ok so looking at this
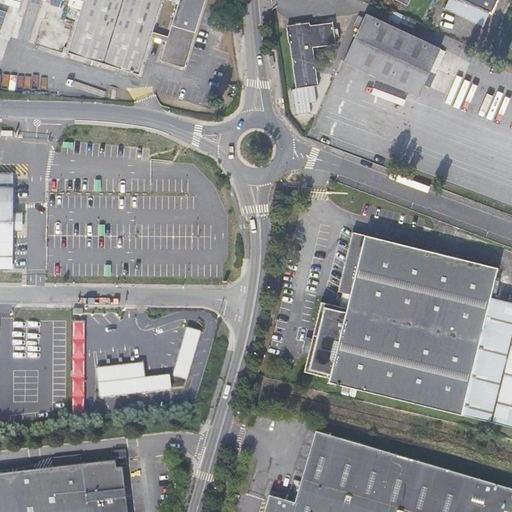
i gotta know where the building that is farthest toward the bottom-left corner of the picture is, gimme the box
[0,459,129,512]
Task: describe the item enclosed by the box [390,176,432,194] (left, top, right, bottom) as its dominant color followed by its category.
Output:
white vehicle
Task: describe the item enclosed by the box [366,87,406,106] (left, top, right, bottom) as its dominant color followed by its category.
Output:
white vehicle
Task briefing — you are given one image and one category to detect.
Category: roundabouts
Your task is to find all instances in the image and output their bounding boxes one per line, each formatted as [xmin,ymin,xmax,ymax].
[218,110,296,188]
